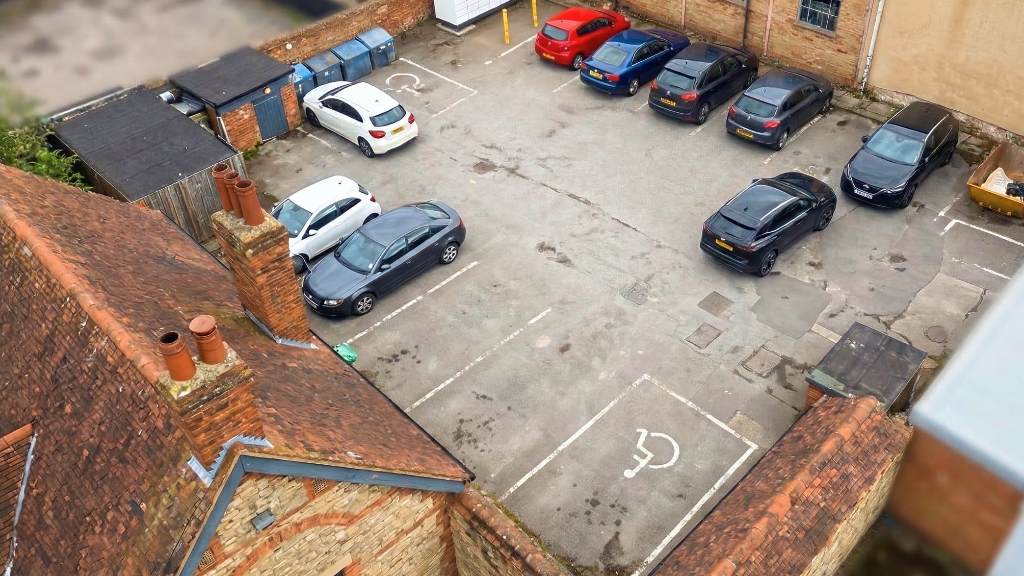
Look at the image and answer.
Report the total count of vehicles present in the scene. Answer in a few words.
9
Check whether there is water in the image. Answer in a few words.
No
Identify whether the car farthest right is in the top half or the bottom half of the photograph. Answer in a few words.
top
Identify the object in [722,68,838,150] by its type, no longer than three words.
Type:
car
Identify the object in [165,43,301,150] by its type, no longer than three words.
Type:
shed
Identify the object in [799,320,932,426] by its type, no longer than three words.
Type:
shed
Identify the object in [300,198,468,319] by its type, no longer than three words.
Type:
car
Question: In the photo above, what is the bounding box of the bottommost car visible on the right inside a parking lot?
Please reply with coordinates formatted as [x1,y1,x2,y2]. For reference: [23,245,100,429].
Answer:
[690,168,838,280]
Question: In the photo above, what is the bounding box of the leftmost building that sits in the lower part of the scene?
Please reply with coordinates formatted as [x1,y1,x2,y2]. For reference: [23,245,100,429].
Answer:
[0,164,487,576]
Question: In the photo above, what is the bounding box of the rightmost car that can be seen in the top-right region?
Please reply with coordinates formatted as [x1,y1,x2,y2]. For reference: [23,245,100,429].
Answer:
[835,98,966,209]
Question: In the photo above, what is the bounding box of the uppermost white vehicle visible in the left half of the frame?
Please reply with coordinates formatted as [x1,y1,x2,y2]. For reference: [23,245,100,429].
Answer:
[300,83,418,161]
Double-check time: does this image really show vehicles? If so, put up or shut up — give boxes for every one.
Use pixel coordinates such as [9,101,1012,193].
[690,168,838,280]
[722,68,838,150]
[300,83,418,161]
[645,43,762,124]
[300,198,468,319]
[529,6,631,71]
[835,98,966,209]
[264,161,386,268]
[575,24,694,96]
